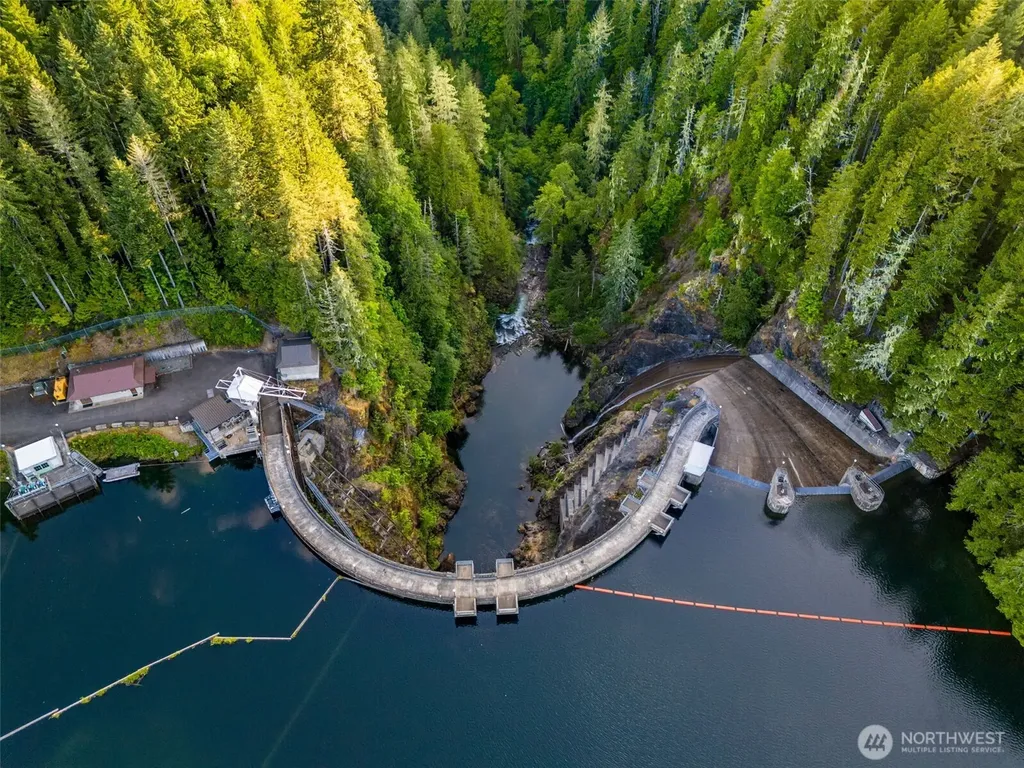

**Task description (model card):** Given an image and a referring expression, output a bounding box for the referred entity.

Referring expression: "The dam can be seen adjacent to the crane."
[260,392,714,622]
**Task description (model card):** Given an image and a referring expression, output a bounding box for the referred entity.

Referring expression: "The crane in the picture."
[211,363,308,426]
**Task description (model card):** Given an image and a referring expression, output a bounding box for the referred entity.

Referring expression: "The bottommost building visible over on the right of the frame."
[682,440,714,494]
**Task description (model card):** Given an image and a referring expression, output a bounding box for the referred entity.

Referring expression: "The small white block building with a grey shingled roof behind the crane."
[274,340,321,384]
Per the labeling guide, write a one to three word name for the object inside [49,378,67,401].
vehicle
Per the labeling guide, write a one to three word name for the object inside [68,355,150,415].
building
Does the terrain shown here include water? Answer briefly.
Yes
